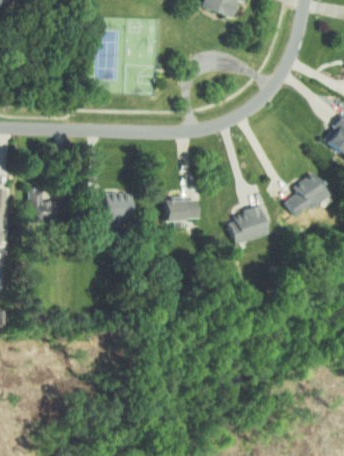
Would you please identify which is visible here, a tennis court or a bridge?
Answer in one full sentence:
Of the two, only a tennis court appears.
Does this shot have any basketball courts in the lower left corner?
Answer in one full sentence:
No, in the lower left corner there is no basketball court.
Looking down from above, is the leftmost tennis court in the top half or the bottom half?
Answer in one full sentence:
The leftmost tennis court sits in the top half of the picture.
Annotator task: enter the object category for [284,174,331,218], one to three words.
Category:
house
